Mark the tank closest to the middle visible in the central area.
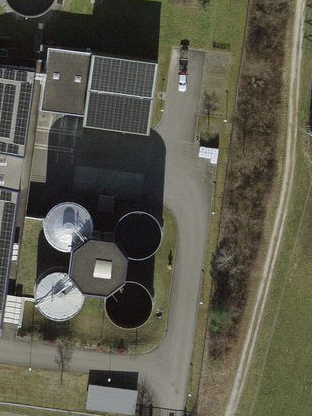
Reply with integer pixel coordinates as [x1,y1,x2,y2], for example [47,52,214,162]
[113,206,164,260]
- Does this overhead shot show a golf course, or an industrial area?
industrial area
